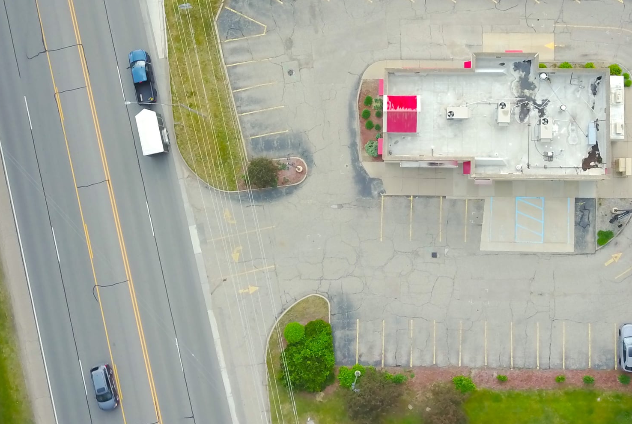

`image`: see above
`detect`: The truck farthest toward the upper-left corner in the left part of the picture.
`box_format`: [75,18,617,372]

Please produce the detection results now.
[128,50,159,108]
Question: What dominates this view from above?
paved ground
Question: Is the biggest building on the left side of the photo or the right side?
right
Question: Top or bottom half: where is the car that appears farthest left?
bottom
